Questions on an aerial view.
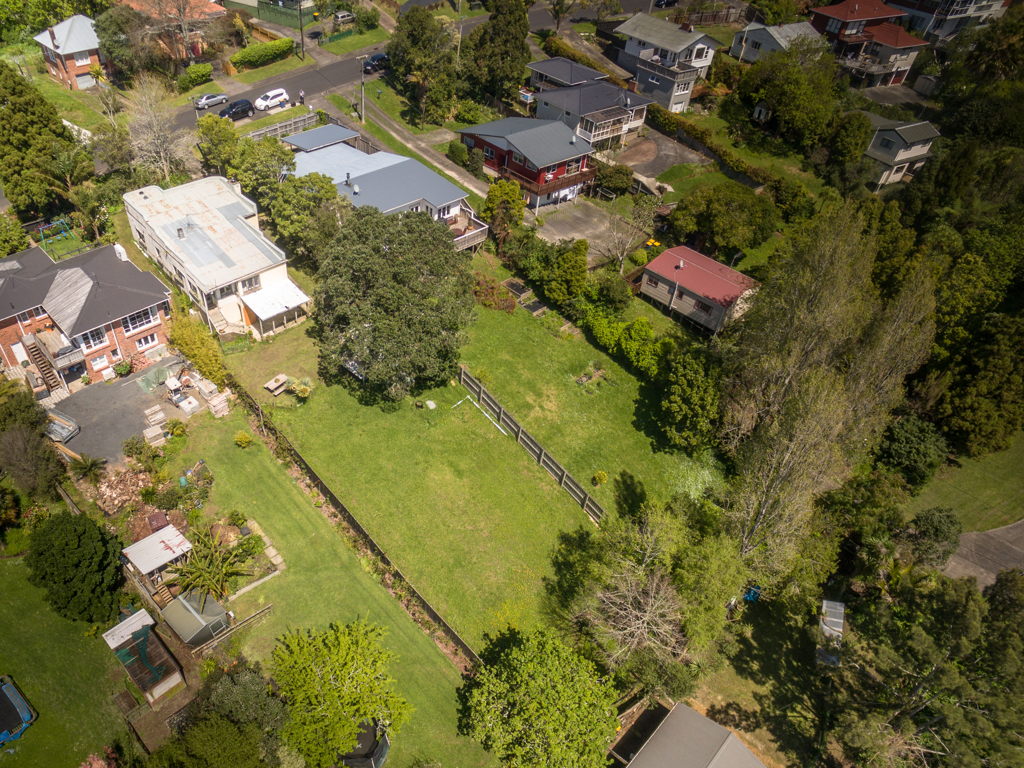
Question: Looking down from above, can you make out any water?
No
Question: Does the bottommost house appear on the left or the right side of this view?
right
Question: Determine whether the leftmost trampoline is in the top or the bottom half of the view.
bottom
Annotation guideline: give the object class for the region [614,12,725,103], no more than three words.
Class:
house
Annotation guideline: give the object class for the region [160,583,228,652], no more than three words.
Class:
shed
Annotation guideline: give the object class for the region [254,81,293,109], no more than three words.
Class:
car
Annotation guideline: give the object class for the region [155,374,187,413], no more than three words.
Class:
work vehicle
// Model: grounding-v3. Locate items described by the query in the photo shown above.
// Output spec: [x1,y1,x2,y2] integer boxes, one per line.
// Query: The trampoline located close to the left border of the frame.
[0,678,39,751]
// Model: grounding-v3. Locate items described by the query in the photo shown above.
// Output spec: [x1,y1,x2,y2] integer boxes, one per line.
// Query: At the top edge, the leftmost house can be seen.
[33,15,106,92]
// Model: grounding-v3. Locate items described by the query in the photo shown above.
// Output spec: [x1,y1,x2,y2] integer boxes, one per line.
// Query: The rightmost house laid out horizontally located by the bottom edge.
[626,702,772,768]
